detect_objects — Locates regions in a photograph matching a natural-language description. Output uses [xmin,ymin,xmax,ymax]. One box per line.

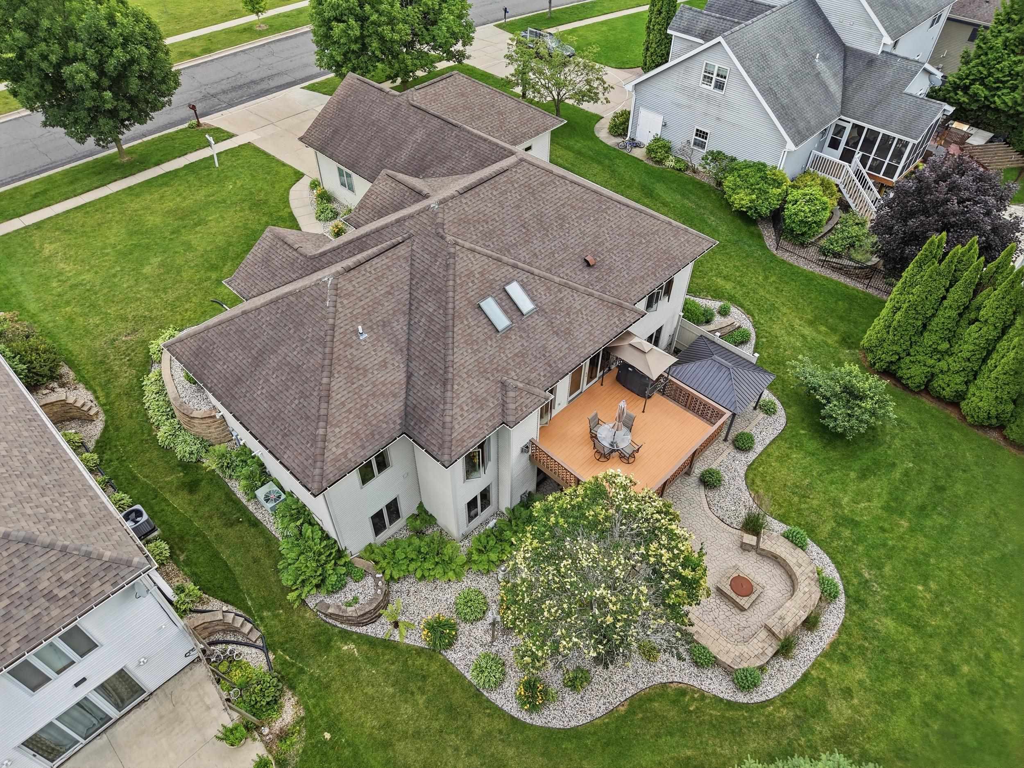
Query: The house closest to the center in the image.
[158,71,723,563]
